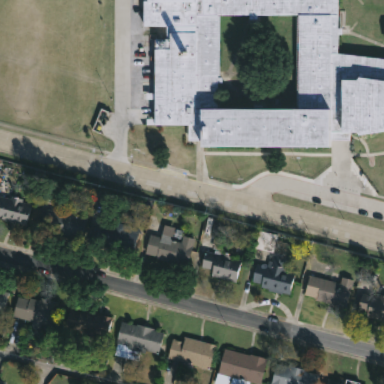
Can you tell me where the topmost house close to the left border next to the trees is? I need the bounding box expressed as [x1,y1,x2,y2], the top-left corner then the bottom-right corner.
[0,194,31,224]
